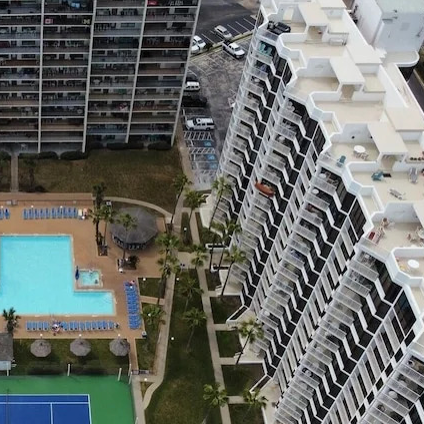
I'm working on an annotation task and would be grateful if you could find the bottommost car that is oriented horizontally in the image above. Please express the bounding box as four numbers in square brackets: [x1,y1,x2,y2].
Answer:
[185,117,216,131]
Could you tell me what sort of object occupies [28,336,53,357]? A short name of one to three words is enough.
umbrella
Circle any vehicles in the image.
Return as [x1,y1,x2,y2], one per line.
[194,36,208,50]
[183,96,204,107]
[213,23,233,41]
[221,40,245,60]
[185,117,216,131]
[186,80,200,93]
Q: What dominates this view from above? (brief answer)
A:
buildings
